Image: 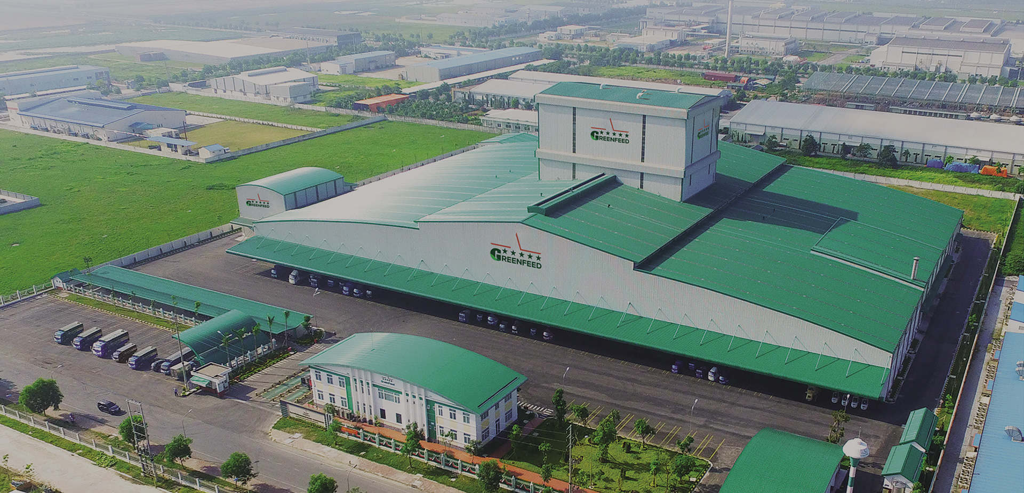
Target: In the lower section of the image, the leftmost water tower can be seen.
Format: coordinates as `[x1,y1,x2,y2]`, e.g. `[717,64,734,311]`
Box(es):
[840,431,872,493]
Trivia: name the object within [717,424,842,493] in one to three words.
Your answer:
shed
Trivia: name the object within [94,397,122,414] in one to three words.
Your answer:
car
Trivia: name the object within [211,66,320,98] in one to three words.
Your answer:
building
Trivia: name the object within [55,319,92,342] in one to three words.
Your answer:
bus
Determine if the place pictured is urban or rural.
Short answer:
urban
